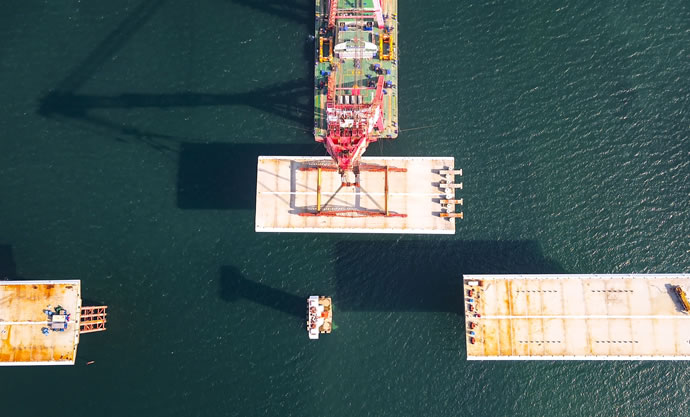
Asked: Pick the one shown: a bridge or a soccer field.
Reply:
bridge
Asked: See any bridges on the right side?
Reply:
Yes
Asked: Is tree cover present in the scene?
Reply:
No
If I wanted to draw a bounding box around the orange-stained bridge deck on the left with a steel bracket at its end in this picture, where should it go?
[0,280,82,365]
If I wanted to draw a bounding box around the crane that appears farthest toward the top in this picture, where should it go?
[321,0,386,177]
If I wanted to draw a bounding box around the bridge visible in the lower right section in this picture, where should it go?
[462,274,690,360]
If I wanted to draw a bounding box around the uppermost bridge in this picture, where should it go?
[255,157,456,234]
